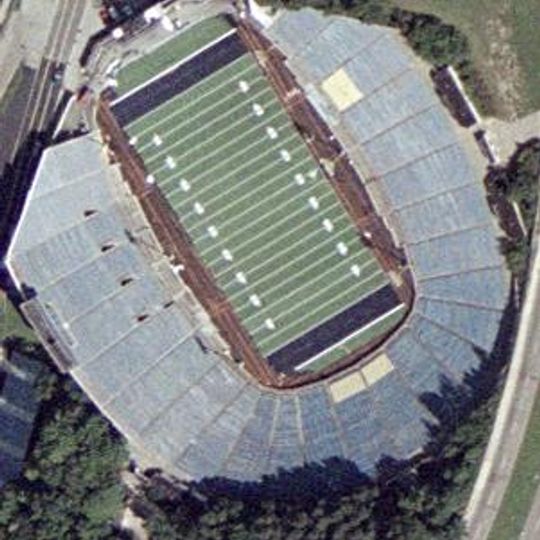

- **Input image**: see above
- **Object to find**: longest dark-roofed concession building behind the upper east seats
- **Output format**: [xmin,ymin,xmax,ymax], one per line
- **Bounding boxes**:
[432,64,476,126]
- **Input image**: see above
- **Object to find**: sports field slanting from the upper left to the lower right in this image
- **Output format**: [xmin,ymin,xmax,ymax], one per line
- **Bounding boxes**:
[108,16,406,379]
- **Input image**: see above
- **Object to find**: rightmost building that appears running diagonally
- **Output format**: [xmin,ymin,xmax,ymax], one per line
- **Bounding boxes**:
[491,198,525,238]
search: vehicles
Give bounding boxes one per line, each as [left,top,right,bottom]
[99,11,106,23]
[53,69,62,82]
